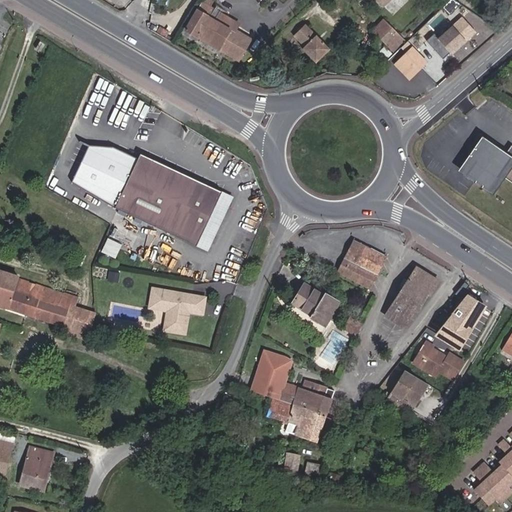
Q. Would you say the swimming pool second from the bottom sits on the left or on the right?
left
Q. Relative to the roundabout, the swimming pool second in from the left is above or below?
below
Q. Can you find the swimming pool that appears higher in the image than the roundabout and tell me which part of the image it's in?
top right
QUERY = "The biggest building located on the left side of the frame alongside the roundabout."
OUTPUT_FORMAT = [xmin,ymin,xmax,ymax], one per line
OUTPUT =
[116,154,234,251]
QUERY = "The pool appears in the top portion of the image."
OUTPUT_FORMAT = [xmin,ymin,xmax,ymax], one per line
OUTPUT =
[430,12,452,36]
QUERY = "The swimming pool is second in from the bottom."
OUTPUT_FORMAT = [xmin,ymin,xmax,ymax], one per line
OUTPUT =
[110,302,144,326]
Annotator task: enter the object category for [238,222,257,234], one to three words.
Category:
vehicle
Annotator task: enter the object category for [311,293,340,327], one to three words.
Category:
house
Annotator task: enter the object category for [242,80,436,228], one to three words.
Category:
roundabout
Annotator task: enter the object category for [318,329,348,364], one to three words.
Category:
swimming pool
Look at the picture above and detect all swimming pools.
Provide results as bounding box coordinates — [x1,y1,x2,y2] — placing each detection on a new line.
[318,329,348,364]
[430,12,452,36]
[110,302,144,326]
